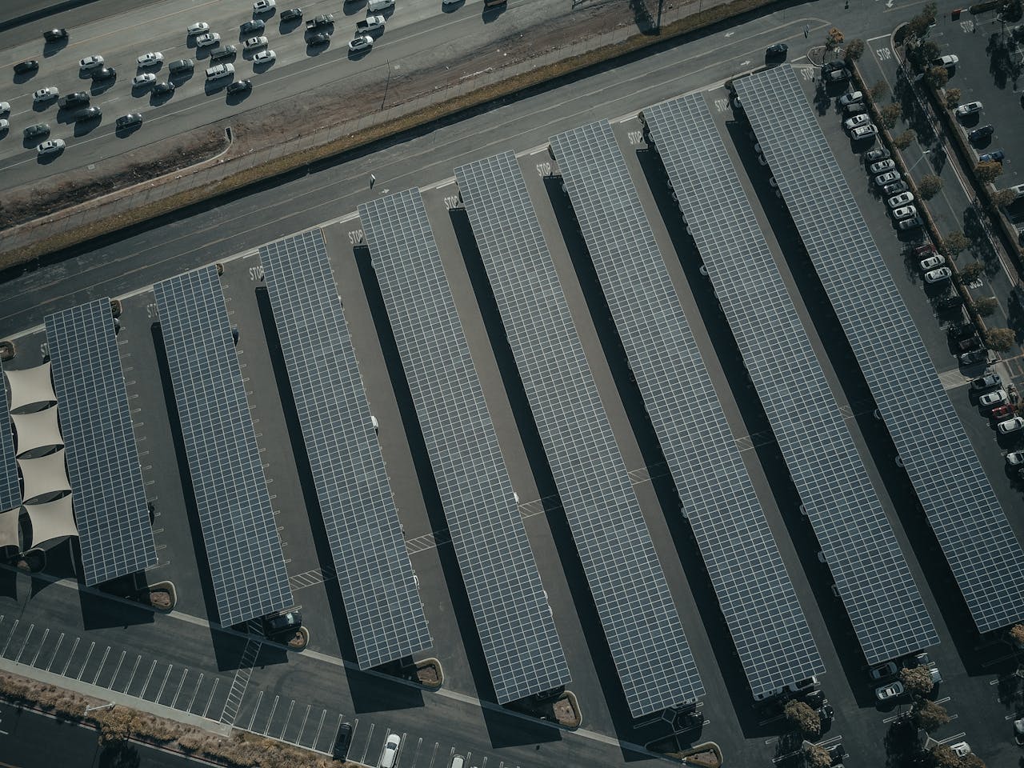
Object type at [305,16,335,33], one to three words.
vehicle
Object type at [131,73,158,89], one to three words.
car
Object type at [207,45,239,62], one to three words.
vehicle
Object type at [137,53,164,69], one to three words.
car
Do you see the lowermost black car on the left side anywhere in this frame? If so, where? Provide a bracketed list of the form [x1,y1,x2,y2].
[334,723,356,760]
